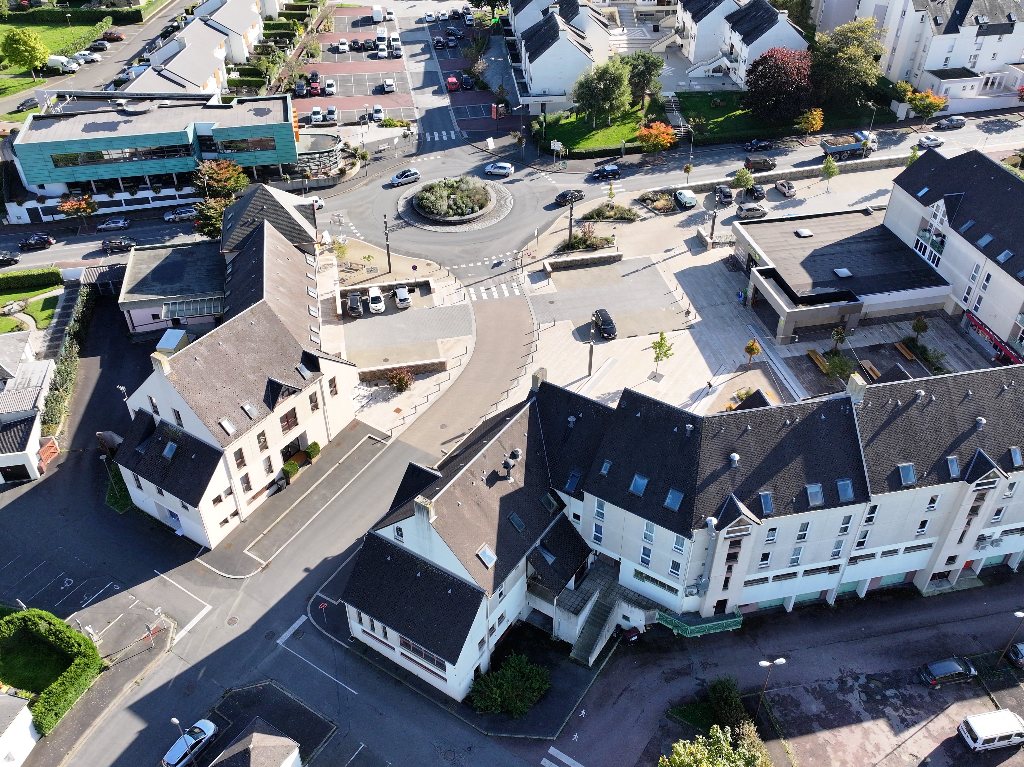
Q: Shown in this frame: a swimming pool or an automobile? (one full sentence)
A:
The image shows an automobile.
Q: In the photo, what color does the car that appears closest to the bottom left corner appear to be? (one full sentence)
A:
The color of the car that appears closest to the bottom left corner is blue.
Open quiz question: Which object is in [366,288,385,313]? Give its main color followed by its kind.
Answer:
white car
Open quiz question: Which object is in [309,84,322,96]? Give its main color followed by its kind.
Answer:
red vehicle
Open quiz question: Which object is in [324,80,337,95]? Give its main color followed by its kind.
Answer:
white vehicle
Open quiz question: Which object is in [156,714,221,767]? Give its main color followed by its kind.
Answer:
blue car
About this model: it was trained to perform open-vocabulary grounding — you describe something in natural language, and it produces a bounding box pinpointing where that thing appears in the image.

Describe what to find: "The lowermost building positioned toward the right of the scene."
[341,362,1024,700]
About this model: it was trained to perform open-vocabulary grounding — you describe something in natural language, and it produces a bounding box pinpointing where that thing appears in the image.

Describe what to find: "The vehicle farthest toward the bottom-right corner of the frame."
[962,704,1024,746]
